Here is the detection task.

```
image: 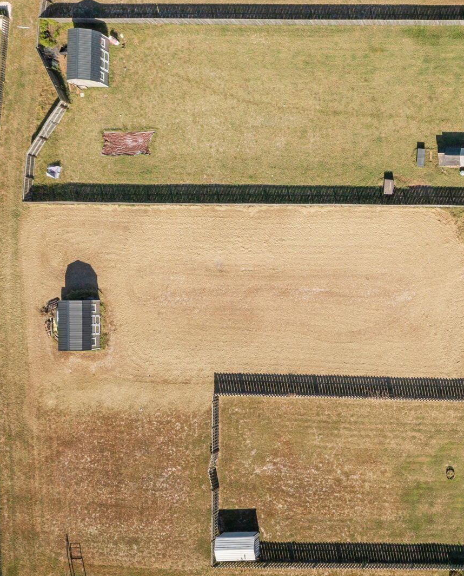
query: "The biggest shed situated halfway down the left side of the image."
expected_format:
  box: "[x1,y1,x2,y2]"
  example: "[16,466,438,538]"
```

[57,300,100,352]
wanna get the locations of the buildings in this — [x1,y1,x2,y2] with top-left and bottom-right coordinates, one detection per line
[438,146,464,167]
[57,300,100,352]
[213,533,261,567]
[66,31,109,92]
